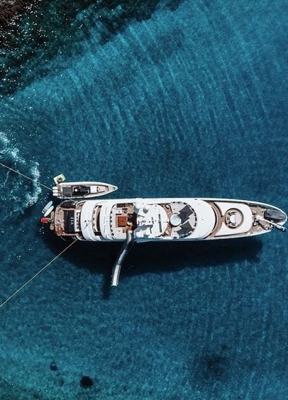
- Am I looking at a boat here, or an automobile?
boat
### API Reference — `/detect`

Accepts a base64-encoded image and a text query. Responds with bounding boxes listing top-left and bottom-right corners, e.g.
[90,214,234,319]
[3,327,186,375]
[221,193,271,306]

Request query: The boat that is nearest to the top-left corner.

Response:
[52,182,119,201]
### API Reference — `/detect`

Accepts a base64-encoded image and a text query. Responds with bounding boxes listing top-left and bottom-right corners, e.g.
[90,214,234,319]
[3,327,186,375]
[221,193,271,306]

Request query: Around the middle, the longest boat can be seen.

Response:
[47,197,287,242]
